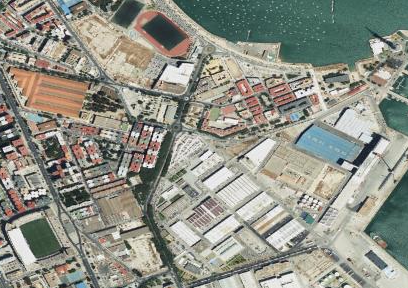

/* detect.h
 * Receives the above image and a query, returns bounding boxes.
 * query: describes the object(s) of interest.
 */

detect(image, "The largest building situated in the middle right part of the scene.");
[295,125,365,164]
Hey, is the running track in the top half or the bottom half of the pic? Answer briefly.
top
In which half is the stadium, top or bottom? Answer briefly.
bottom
